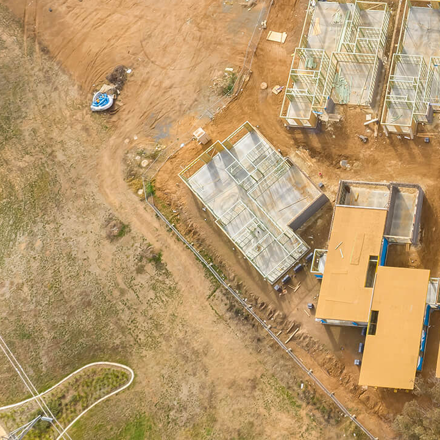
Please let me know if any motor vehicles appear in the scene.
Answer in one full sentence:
No, no motor vehicle can be seen from above.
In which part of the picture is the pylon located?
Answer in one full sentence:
The pylon is in the bottom left part of the image.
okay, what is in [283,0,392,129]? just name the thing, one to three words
house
